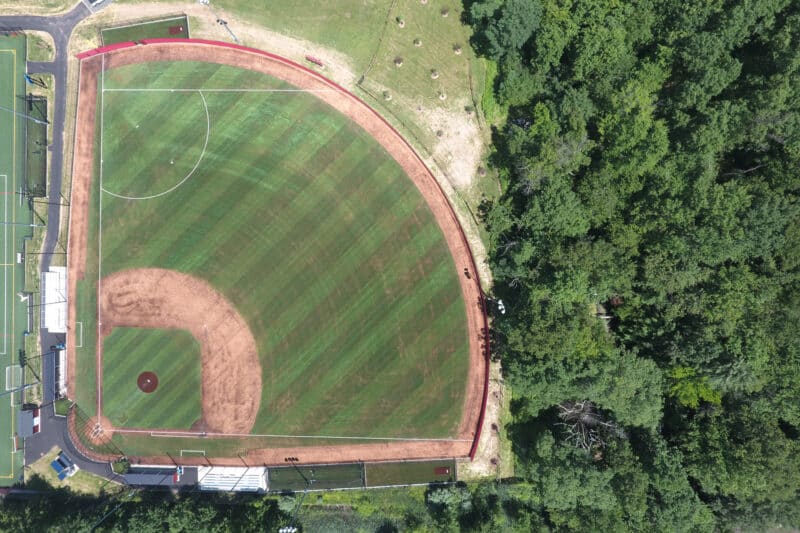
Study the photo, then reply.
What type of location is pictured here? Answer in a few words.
sports ground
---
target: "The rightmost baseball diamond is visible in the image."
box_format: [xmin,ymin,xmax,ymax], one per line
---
[66,43,488,467]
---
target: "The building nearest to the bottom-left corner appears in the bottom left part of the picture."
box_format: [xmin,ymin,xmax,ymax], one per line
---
[16,409,41,439]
